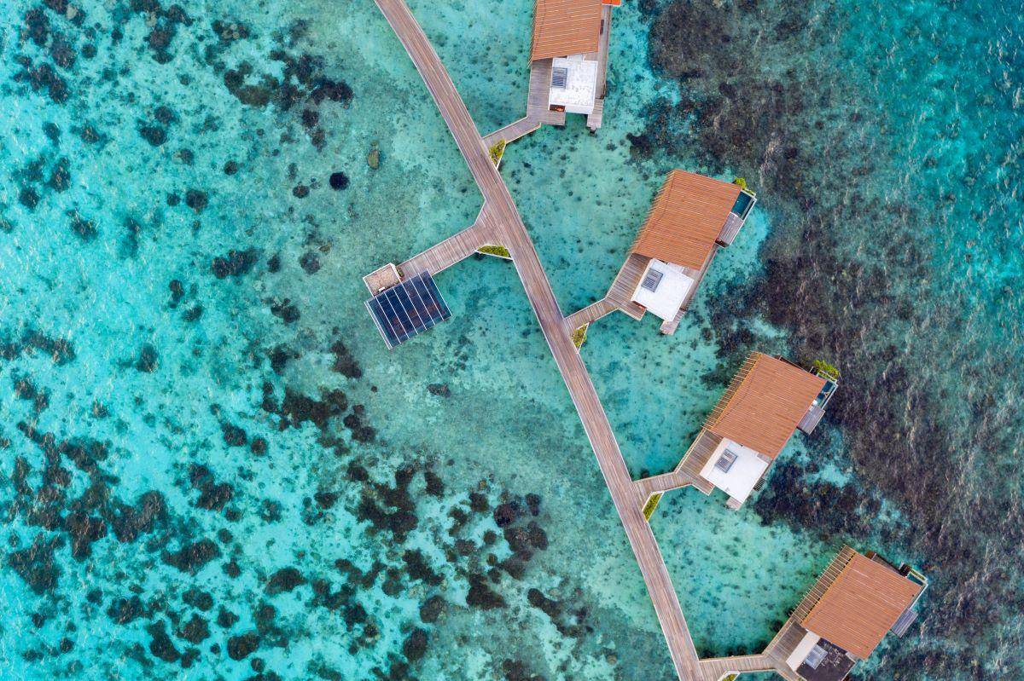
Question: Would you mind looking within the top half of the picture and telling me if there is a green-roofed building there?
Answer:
No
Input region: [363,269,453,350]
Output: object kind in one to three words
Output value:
building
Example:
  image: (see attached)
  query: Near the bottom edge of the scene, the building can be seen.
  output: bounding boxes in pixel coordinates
[756,543,928,681]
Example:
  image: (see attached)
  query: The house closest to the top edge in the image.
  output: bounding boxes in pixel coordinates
[525,0,612,140]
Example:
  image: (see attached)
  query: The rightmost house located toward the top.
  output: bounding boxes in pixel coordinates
[605,171,757,337]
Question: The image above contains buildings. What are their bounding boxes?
[605,171,757,337]
[756,543,928,681]
[363,269,453,350]
[673,351,836,509]
[525,0,612,140]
